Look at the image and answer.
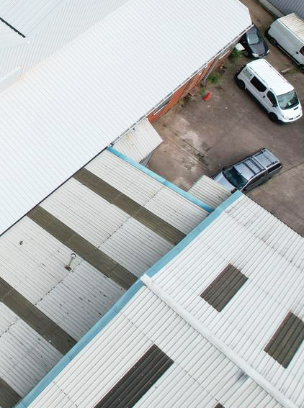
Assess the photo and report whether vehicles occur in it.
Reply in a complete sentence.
Yes, the frame does contain a vehicle.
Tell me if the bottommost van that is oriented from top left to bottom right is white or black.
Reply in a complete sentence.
The bottommost van that is oriented from top left to bottom right looks white in the image.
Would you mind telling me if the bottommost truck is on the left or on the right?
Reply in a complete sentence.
The bottommost truck sits on the right side.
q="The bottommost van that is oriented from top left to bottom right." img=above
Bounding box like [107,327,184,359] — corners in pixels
[233,53,304,123]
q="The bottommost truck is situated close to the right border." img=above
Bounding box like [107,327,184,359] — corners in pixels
[207,144,290,196]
